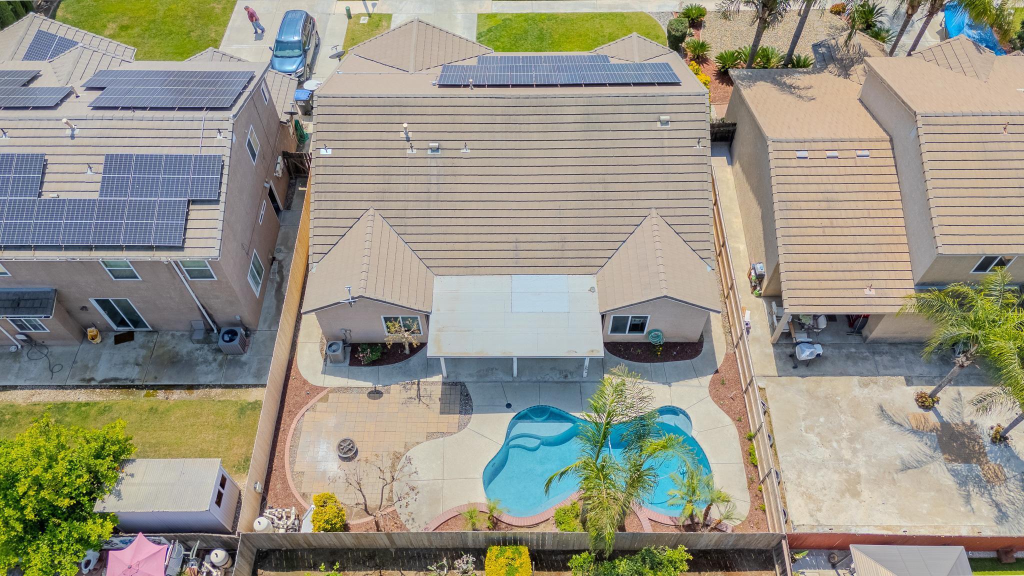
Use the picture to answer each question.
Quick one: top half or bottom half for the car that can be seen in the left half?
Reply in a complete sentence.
Seen from above, the car that can be seen in the left half lies in the top half of the view.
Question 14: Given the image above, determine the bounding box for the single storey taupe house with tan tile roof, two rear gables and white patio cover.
[300,17,724,378]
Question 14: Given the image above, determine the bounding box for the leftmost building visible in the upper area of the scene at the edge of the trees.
[0,10,304,349]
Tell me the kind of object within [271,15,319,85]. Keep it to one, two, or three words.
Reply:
car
